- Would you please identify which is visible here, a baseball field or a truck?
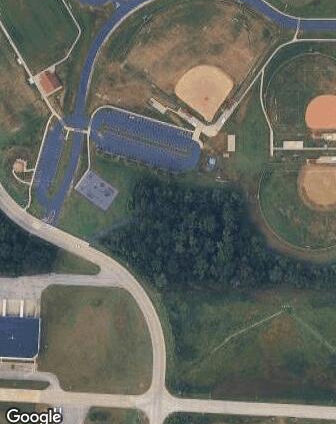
baseball field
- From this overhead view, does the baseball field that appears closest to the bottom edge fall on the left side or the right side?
right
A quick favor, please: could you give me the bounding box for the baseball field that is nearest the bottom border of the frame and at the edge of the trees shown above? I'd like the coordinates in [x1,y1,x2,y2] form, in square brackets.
[261,162,336,253]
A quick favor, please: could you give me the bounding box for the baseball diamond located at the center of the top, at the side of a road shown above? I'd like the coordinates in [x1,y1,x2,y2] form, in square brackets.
[110,0,283,128]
